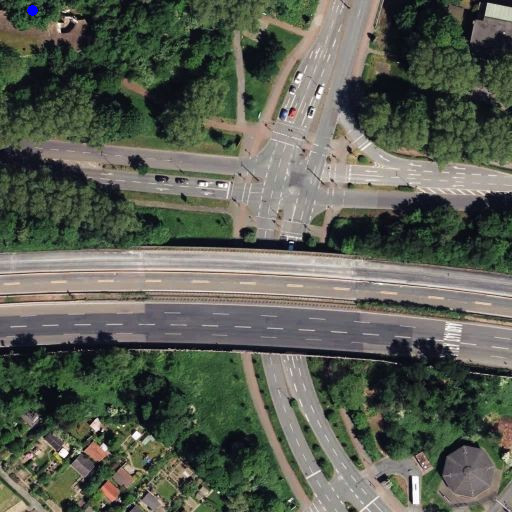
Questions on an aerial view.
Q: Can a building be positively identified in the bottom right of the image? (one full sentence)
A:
Yes, a building appears in the bottom right of the image.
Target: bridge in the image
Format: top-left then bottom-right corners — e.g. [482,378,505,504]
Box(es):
[0,248,512,380]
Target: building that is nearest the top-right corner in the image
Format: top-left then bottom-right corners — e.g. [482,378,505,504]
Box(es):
[475,7,512,46]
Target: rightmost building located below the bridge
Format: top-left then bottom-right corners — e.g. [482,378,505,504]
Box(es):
[442,444,494,496]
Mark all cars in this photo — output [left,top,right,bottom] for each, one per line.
[308,106,315,118]
[280,108,287,120]
[294,71,302,84]
[316,84,324,98]
[216,182,228,188]
[197,180,208,186]
[290,107,296,118]
[288,242,294,251]
[290,84,296,94]
[176,178,188,184]
[156,176,168,182]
